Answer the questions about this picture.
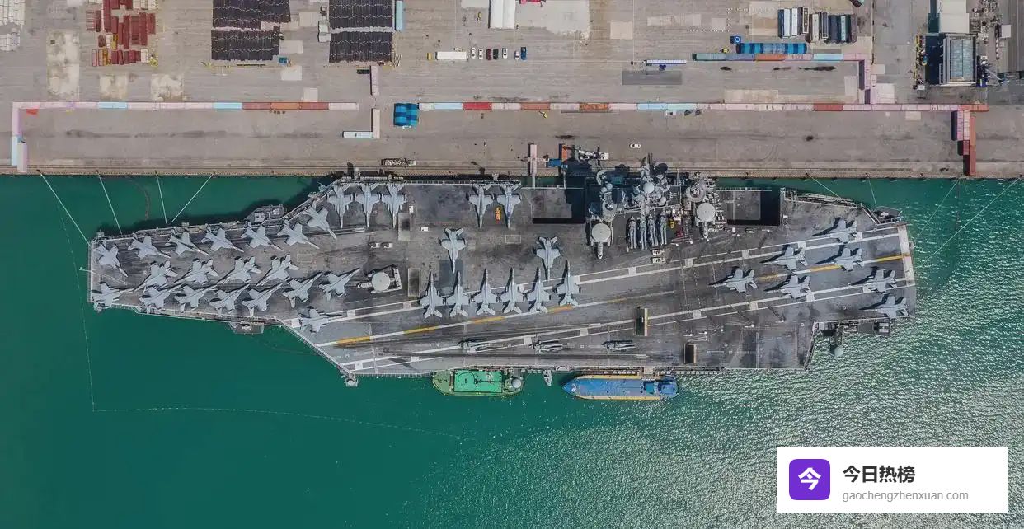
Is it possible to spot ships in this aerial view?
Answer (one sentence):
Yes, you can see a ship in this photo.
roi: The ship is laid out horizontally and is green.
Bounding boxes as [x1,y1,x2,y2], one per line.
[432,369,524,397]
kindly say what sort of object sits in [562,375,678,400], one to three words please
ship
